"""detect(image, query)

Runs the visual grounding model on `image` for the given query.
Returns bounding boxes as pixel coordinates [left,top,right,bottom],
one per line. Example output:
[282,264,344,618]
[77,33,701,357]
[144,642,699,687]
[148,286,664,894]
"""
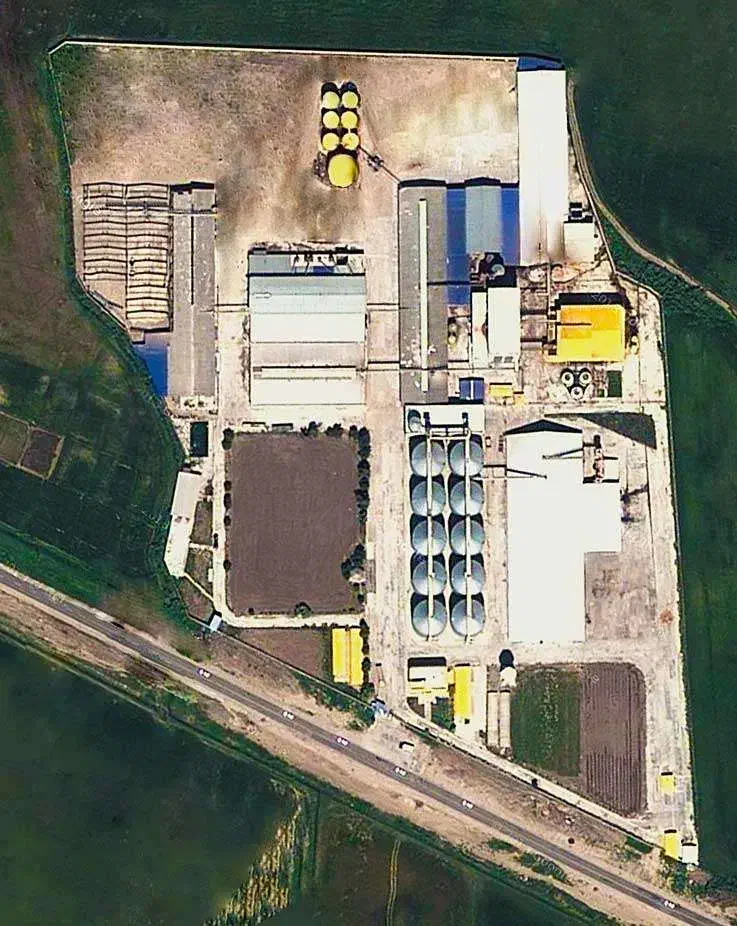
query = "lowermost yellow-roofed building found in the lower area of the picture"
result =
[665,834,680,859]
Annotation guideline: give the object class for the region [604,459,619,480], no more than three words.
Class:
house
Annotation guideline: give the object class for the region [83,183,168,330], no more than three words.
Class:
building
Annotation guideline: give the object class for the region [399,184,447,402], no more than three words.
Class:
shed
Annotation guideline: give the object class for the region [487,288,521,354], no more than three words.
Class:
building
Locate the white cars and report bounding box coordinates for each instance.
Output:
[200,669,211,677]
[284,710,295,718]
[395,766,407,774]
[337,737,348,744]
[665,901,676,908]
[463,799,473,807]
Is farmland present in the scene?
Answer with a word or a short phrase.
Yes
